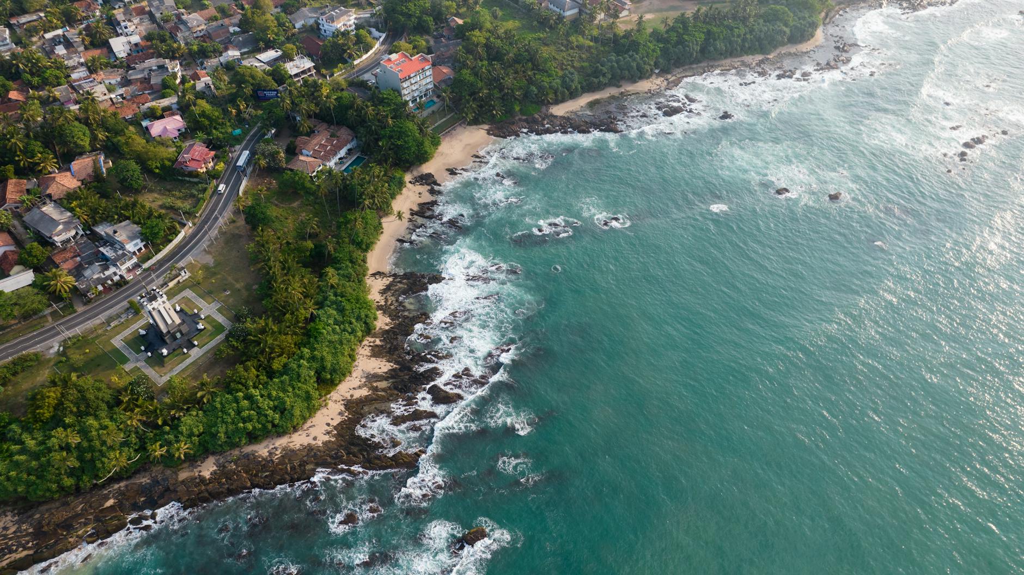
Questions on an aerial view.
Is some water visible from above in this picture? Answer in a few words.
Yes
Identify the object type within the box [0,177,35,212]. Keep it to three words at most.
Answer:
house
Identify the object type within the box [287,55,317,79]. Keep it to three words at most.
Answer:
building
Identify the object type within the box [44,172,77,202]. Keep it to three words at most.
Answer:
house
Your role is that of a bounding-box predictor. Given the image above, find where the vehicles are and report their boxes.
[233,148,250,172]
[217,185,225,194]
[366,78,376,84]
